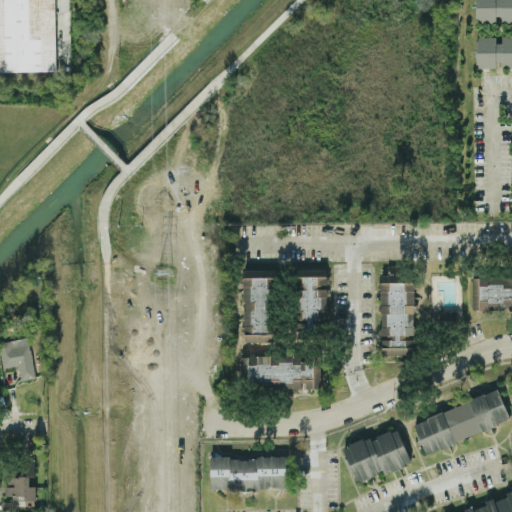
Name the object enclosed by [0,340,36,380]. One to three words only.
house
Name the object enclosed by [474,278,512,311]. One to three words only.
building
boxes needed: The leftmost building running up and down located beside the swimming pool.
[380,276,416,358]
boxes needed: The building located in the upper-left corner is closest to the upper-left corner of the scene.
[0,0,56,72]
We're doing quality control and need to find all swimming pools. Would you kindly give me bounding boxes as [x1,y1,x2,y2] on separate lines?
[432,275,462,311]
